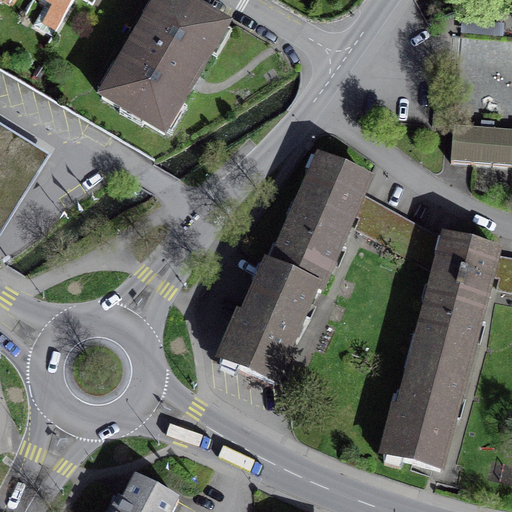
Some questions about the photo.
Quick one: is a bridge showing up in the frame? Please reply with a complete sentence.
Yes, there is a bridge in the image.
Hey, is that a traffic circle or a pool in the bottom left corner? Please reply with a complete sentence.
There is a traffic circle in the bottom left corner.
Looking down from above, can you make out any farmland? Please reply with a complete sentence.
No, no farmland is visible.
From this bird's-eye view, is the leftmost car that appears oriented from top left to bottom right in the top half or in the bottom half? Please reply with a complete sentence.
Seen from above, the leftmost car that appears oriented from top left to bottom right lies in the bottom half of the view.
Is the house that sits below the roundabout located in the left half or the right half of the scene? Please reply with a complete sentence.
The house that sits below the roundabout sits on the left side.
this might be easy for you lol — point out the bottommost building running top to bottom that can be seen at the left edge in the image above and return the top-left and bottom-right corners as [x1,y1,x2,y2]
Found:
[0,114,55,235]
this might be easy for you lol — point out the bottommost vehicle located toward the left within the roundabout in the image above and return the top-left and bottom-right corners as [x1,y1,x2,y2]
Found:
[97,422,120,439]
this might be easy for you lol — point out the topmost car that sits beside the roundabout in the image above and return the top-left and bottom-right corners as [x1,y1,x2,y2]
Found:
[100,292,122,310]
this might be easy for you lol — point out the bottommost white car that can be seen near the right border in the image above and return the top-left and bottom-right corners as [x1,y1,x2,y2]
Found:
[472,214,497,230]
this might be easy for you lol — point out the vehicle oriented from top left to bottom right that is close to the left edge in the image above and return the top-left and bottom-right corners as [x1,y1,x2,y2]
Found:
[0,332,20,354]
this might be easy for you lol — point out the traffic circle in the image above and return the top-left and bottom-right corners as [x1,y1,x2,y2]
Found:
[26,302,170,442]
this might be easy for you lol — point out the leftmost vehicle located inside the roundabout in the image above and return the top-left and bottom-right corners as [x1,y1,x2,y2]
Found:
[48,350,60,372]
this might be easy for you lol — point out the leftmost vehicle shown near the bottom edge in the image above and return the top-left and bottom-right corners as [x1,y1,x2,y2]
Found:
[8,480,25,508]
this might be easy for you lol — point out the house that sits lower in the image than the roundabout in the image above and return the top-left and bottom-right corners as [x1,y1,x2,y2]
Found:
[106,472,180,512]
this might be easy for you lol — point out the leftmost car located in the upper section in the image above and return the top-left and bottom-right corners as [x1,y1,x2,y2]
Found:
[81,172,104,190]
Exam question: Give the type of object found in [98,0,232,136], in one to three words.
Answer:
building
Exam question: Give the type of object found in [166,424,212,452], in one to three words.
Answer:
truck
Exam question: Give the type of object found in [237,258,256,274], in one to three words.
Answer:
car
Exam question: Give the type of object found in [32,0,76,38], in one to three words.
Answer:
house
